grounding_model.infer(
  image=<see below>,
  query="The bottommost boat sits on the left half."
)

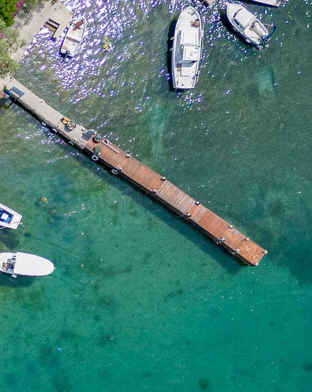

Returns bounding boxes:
[0,249,60,277]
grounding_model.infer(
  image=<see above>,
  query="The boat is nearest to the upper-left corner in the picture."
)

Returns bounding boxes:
[59,16,87,65]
